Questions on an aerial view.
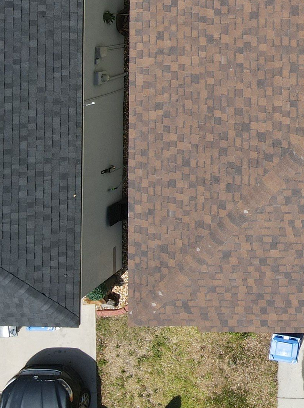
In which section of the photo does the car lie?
bottom left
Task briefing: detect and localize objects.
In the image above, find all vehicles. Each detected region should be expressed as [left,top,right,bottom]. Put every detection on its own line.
[1,363,96,408]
